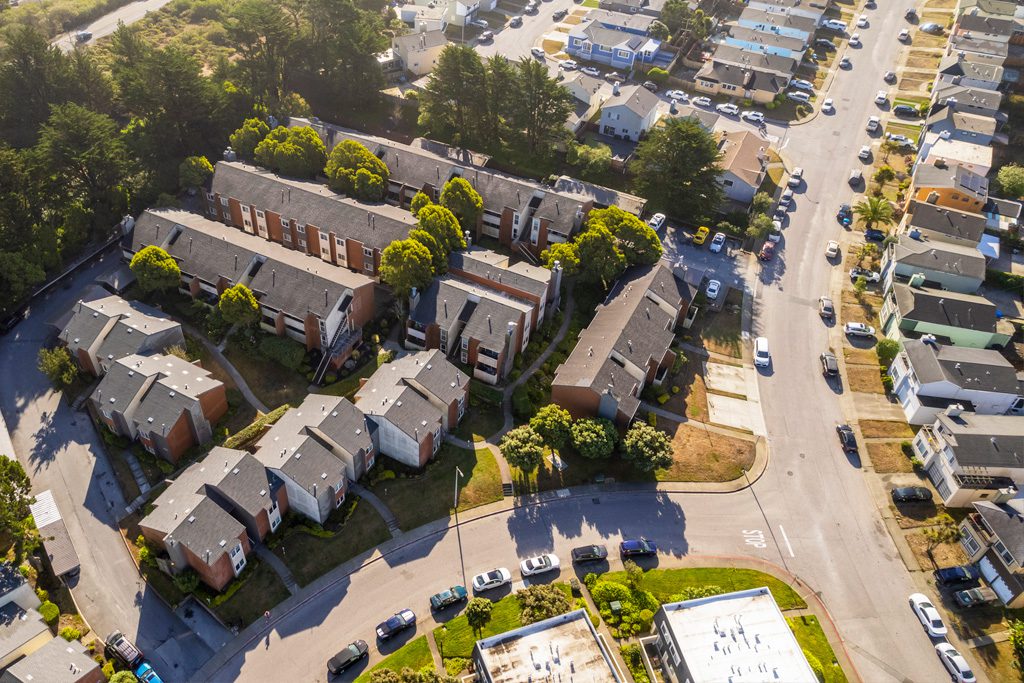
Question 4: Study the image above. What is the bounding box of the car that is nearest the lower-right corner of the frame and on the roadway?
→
[939,644,973,683]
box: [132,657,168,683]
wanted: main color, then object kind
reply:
blue truck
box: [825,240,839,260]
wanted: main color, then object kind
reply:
white car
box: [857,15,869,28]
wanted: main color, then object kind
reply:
white vehicle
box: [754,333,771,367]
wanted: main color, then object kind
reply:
white vehicle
